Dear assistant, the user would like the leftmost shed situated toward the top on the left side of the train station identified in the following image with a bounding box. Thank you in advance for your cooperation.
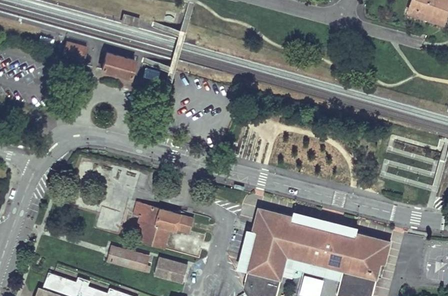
[62,42,88,60]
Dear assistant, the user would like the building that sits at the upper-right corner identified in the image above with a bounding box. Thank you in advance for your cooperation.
[406,0,448,28]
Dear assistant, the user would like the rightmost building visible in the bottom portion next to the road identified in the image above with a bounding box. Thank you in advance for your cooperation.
[236,207,392,296]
